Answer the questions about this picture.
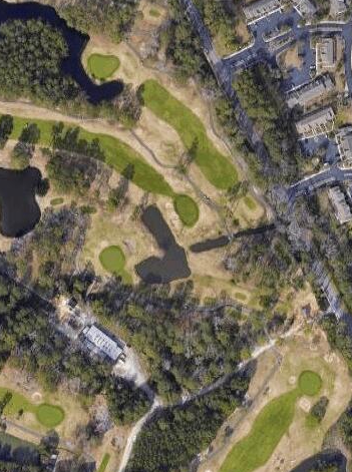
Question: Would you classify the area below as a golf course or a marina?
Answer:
golf course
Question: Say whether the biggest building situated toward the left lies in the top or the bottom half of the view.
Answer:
bottom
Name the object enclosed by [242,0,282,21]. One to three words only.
building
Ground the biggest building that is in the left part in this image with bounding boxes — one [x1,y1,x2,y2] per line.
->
[84,326,124,363]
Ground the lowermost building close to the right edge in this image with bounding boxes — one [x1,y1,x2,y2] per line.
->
[328,187,352,223]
